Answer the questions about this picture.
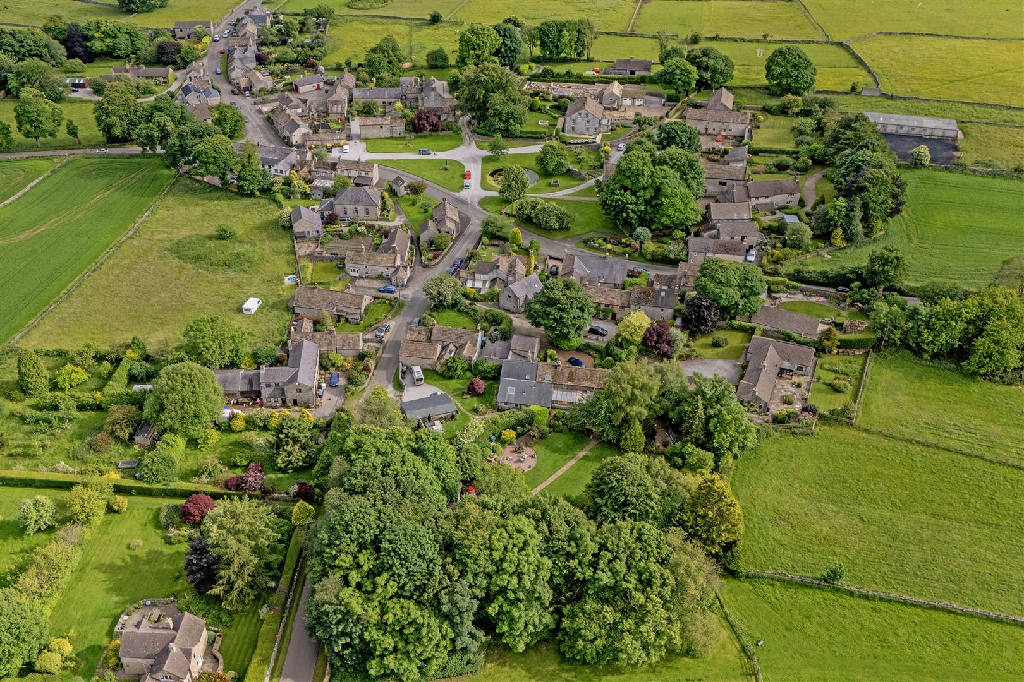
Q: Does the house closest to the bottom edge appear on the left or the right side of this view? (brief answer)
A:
left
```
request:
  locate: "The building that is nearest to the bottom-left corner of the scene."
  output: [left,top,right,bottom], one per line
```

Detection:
[119,611,218,682]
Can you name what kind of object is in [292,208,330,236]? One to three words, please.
building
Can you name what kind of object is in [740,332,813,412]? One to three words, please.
house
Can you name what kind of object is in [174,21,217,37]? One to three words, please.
barn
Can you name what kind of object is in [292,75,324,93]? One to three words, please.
barn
